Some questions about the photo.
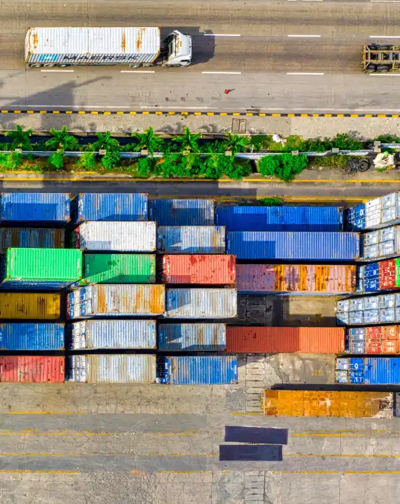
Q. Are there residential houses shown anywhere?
No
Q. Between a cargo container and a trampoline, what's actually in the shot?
cargo container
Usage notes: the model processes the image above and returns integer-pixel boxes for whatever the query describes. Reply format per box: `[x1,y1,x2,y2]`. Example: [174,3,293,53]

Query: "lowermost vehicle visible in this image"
[259,390,400,418]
